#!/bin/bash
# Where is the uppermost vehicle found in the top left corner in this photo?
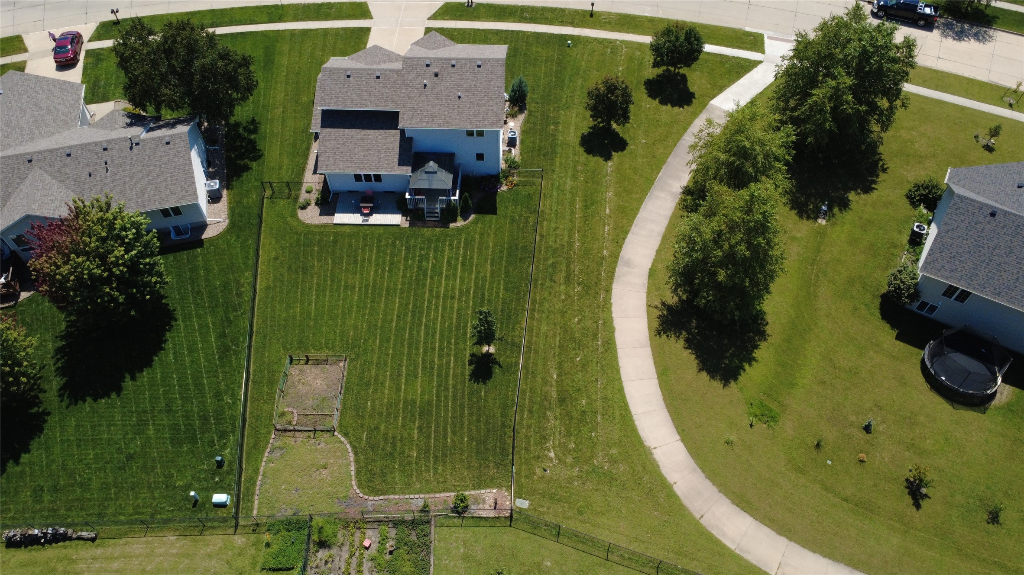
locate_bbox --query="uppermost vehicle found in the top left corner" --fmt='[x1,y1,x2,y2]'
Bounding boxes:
[50,30,82,64]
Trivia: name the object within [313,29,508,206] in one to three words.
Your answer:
house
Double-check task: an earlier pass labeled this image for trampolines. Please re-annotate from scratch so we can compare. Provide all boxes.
[918,314,1024,402]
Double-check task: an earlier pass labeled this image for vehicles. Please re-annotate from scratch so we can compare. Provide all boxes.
[50,30,82,64]
[872,0,940,26]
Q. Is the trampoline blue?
No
